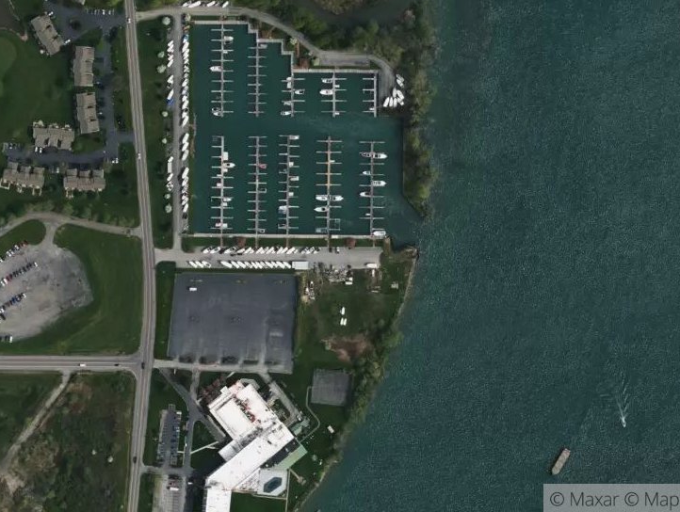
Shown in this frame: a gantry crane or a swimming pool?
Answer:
swimming pool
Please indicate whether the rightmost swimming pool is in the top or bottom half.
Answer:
bottom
